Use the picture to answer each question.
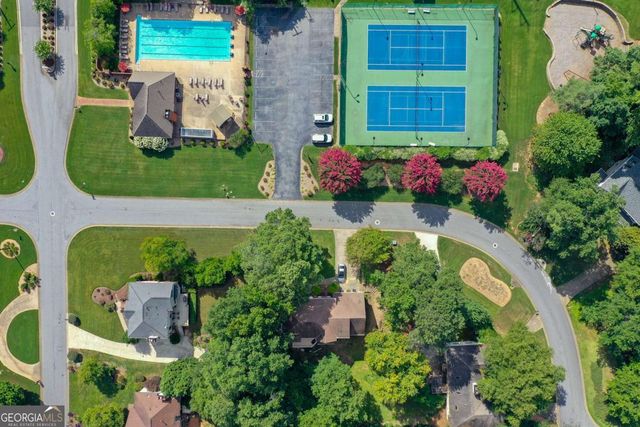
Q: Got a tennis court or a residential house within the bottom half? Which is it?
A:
residential house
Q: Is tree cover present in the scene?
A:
Yes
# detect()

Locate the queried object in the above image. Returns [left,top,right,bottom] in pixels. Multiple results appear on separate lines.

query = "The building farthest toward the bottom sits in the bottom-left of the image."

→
[127,389,181,427]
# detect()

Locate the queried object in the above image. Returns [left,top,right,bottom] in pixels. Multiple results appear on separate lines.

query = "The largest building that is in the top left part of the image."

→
[128,71,181,138]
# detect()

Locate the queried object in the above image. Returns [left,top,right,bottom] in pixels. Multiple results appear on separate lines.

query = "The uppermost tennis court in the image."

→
[368,24,467,71]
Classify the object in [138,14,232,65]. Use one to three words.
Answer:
swimming pool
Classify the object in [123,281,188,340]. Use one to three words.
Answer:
house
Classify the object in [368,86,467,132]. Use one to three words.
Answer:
tennis court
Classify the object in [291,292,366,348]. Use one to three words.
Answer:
house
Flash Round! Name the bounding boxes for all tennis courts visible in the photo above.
[368,86,467,132]
[368,24,467,71]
